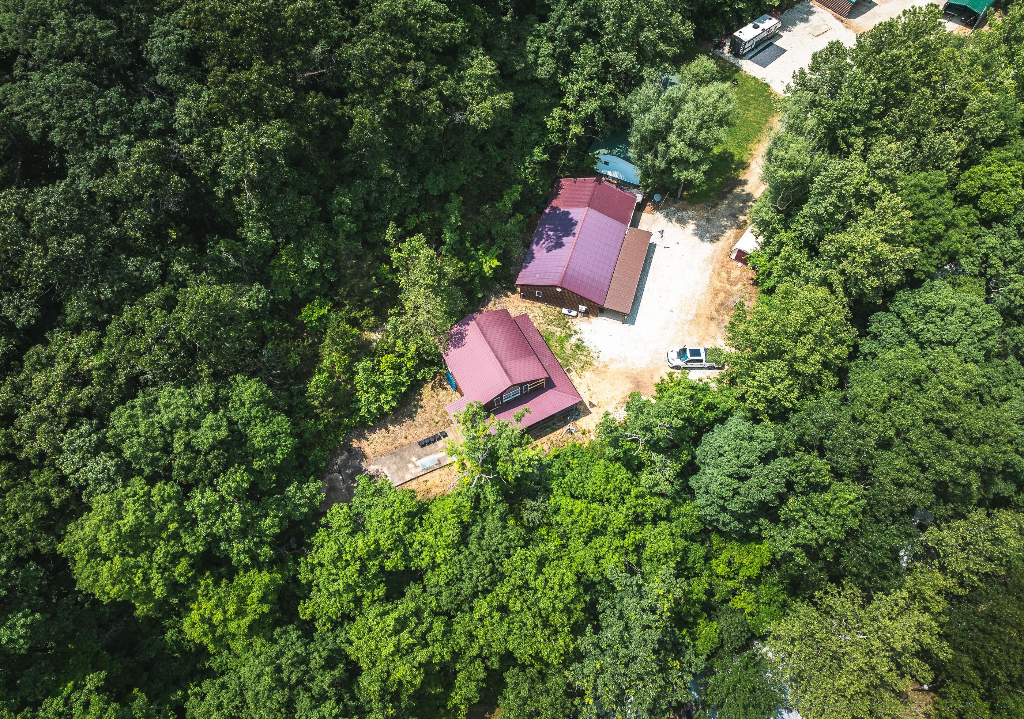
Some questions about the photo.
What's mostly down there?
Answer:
trees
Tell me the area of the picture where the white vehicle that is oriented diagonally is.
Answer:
top right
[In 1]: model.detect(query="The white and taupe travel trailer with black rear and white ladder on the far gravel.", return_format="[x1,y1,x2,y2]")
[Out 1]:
[728,14,778,57]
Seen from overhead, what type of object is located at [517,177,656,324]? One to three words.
house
